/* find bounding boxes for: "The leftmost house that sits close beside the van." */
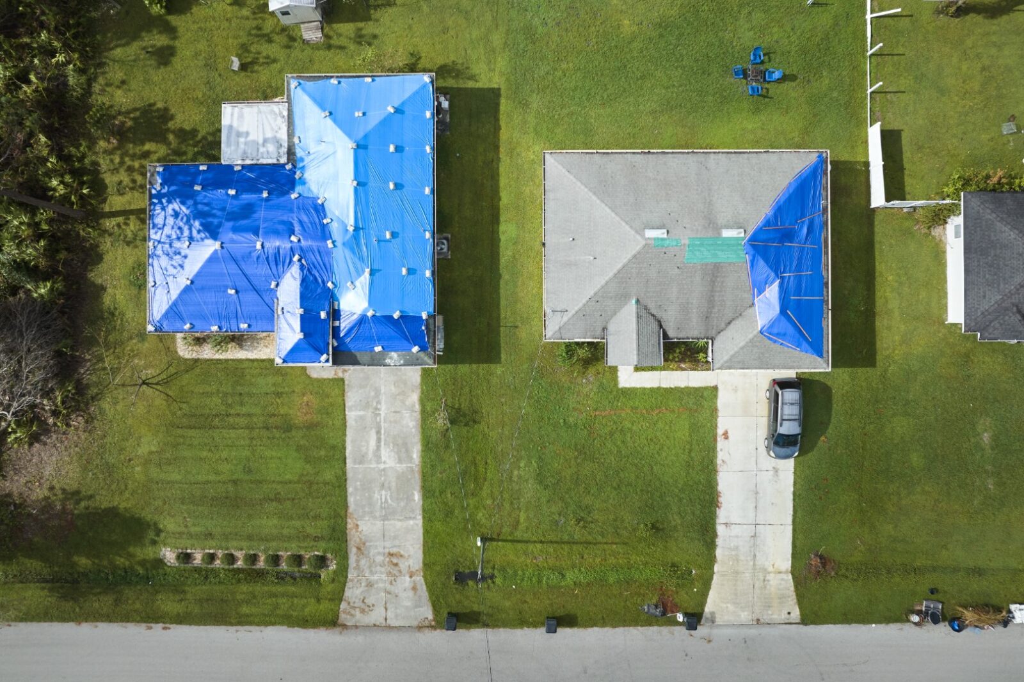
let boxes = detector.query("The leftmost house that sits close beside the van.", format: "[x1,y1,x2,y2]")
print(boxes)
[543,151,831,371]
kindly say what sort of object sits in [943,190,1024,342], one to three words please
house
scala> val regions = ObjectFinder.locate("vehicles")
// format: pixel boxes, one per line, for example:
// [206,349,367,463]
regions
[764,378,804,460]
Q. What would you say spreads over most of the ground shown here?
grass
